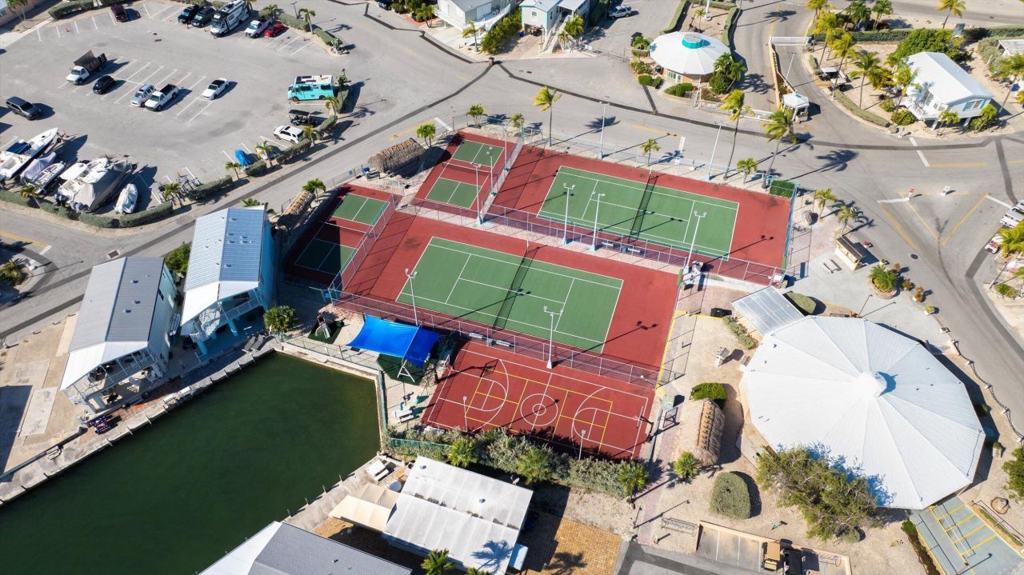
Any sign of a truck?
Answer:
Yes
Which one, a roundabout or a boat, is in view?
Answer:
boat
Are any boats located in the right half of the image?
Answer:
No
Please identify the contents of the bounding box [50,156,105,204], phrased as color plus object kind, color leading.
white boat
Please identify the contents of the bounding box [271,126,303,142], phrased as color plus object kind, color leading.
white car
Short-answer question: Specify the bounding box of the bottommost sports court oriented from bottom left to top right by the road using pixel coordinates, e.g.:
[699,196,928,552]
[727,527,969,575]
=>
[280,183,402,287]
